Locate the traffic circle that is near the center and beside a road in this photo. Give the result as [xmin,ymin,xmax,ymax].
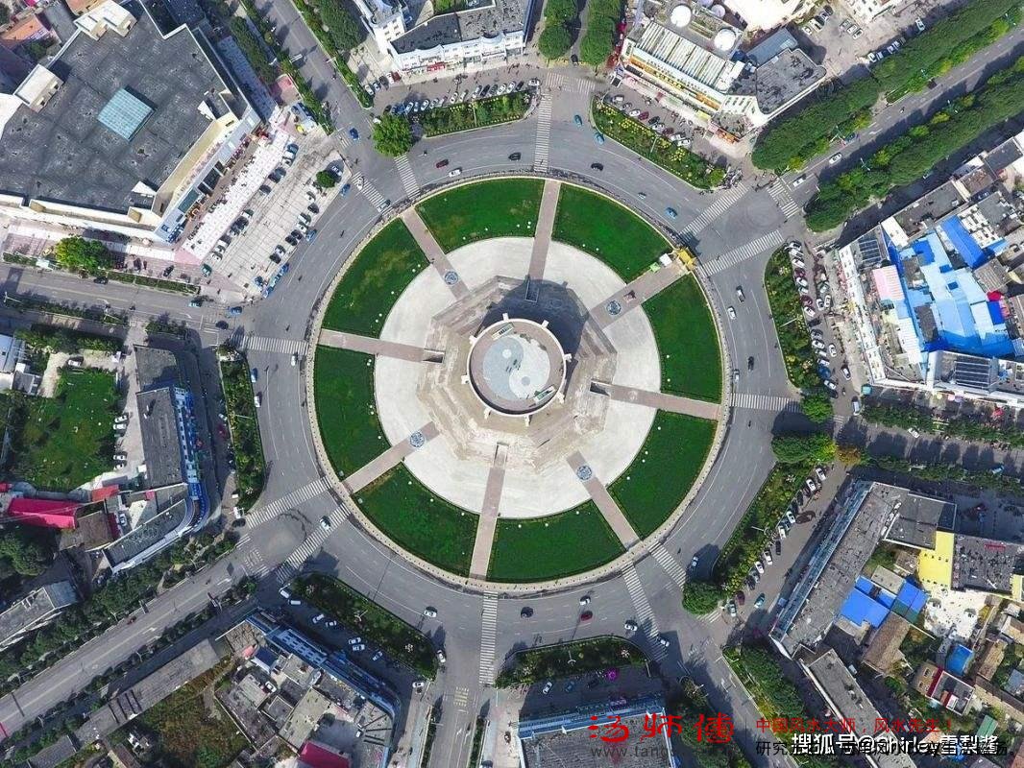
[219,97,815,677]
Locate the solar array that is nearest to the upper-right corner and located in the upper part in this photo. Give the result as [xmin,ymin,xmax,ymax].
[859,239,881,265]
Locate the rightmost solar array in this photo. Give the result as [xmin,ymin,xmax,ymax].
[953,356,989,382]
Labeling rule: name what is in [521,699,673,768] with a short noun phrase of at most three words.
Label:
building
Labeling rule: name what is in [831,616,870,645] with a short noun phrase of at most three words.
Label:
shed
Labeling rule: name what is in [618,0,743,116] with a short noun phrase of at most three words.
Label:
building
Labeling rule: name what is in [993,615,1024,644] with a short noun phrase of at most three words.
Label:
house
